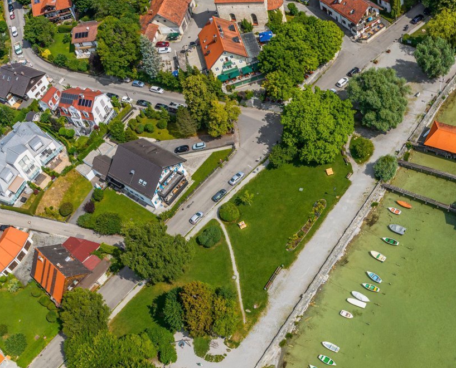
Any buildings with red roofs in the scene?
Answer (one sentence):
Yes, the picture does show a building with a red roof.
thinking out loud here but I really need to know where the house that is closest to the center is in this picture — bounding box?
[106,138,196,206]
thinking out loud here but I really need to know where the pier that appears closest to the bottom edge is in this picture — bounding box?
[381,183,456,215]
